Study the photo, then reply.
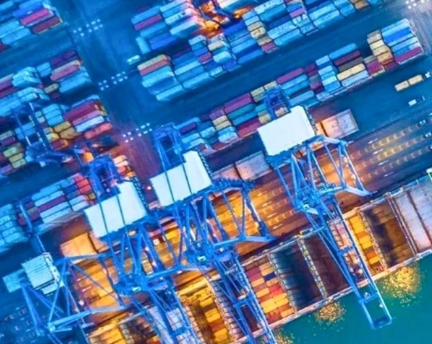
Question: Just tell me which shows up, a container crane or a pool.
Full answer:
This aerial view contains a container crane.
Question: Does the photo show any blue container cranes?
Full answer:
Yes, the frame does contain a blue container crane.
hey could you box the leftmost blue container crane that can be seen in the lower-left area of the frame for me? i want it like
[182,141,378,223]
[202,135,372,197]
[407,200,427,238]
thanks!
[0,194,141,344]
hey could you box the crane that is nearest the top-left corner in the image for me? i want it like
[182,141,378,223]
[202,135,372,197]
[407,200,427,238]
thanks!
[11,100,79,166]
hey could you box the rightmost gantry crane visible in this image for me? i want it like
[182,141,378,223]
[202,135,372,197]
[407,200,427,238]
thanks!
[248,75,390,332]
